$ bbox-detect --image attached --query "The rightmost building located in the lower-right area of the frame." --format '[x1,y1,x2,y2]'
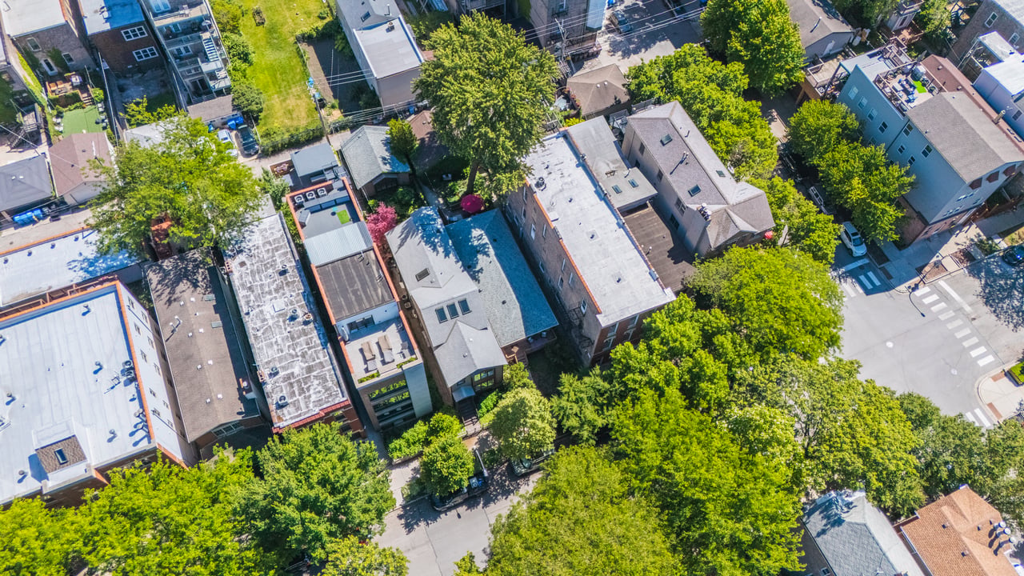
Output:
[895,487,1024,576]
